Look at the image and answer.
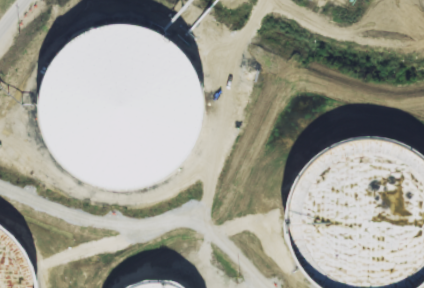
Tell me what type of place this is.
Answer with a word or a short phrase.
industrial area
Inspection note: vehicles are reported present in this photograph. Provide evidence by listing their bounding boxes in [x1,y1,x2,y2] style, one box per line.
[226,75,232,88]
[213,89,222,98]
